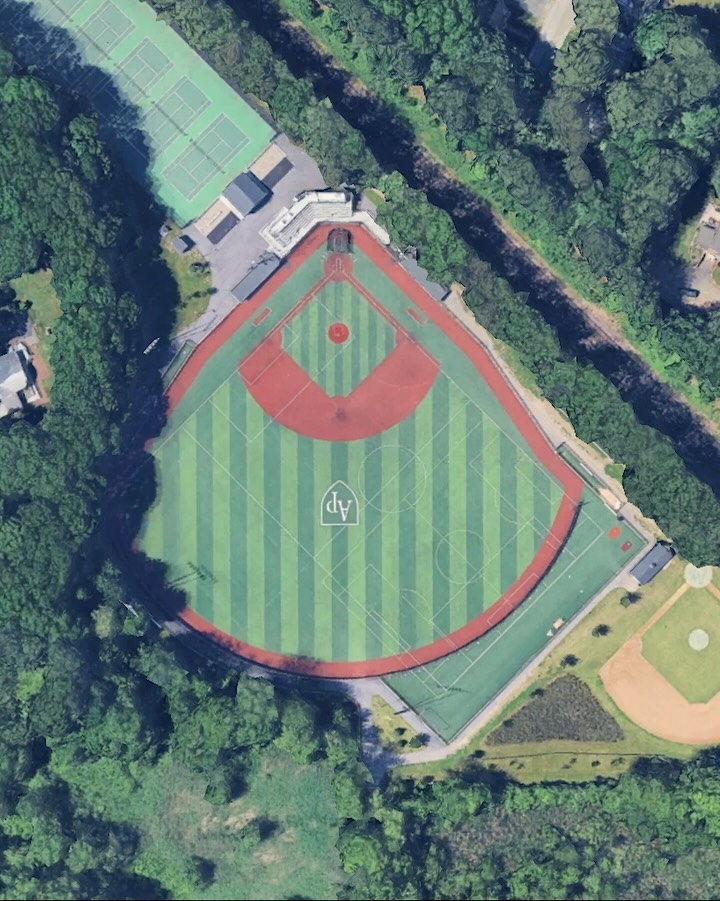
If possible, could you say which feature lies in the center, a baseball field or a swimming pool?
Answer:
baseball field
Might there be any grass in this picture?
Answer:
Yes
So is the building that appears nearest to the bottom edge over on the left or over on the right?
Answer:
right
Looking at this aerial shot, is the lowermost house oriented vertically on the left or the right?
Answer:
left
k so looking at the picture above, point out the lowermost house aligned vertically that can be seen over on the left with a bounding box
[0,347,30,413]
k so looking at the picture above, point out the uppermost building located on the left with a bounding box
[222,173,266,219]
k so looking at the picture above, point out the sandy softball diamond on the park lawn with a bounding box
[600,561,720,744]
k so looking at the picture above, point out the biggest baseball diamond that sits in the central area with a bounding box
[98,223,583,699]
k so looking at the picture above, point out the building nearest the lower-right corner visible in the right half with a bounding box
[632,543,673,584]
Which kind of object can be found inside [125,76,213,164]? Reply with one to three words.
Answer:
tennis court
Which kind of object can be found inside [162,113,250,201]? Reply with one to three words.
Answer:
tennis court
